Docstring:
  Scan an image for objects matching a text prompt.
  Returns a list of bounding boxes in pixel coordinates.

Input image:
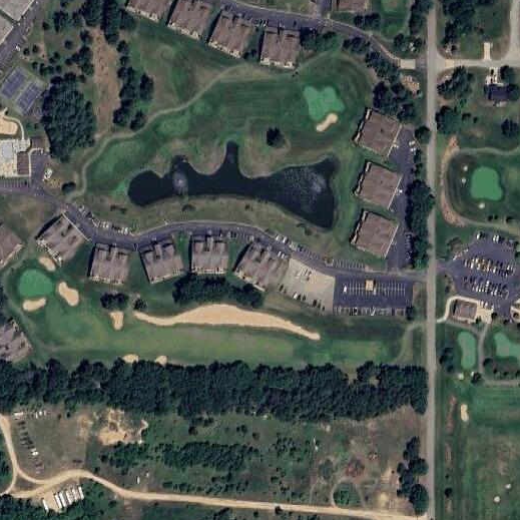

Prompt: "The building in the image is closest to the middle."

[237,239,288,290]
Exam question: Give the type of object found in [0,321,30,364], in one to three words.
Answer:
building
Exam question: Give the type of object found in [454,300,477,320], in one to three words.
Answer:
barn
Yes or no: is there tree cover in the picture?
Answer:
Yes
